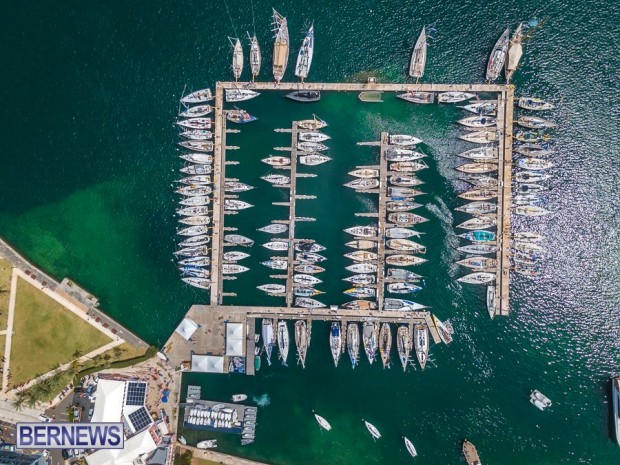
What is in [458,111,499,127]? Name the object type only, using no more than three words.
boat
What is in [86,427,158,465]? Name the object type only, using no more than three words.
building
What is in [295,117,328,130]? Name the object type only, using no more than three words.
boat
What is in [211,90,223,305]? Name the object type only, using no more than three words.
pier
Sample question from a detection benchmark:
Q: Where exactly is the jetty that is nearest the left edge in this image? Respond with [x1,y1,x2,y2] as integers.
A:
[54,277,101,312]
